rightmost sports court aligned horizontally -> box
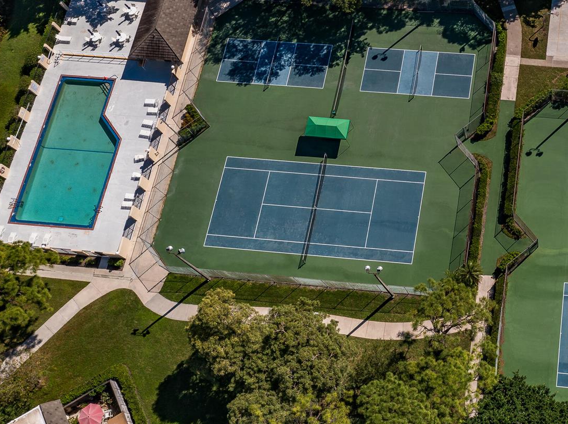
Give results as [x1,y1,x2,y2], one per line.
[360,47,475,99]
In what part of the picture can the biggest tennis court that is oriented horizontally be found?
center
